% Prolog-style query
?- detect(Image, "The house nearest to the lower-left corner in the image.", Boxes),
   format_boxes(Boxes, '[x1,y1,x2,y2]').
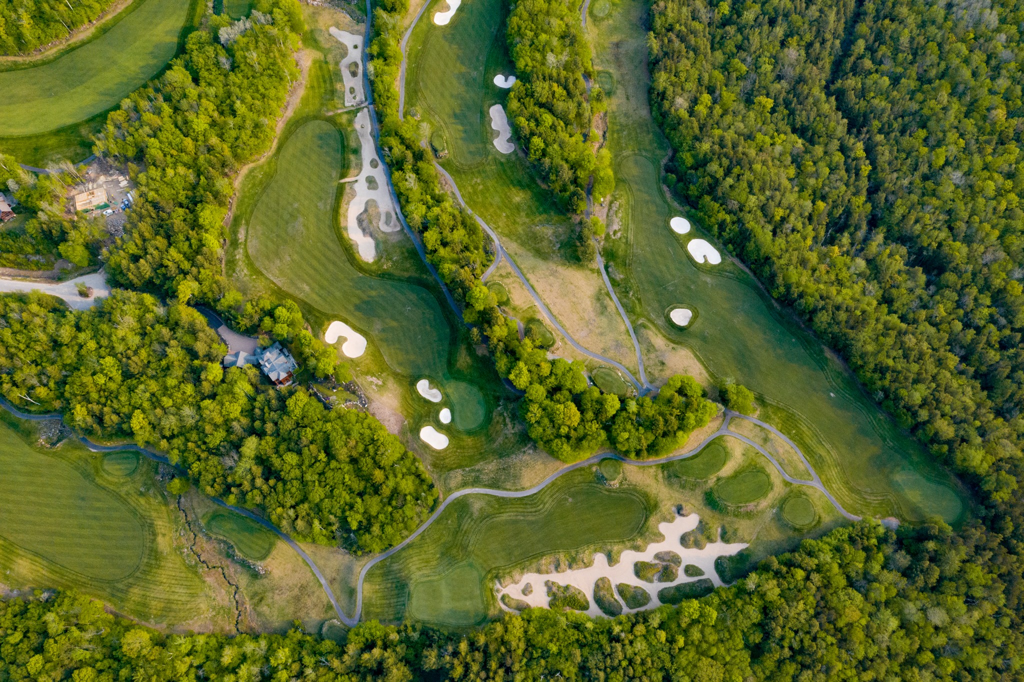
[222,341,300,388]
